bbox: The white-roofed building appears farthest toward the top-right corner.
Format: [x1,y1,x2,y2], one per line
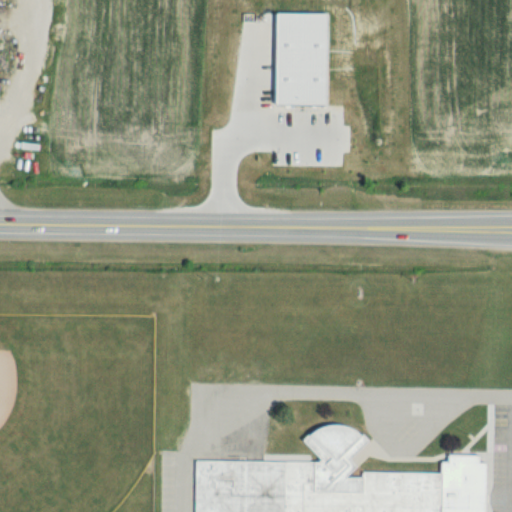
[276,12,330,108]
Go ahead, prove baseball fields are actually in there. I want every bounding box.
[0,316,156,512]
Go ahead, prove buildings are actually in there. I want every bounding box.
[276,12,330,108]
[196,424,487,512]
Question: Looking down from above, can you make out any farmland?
Yes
